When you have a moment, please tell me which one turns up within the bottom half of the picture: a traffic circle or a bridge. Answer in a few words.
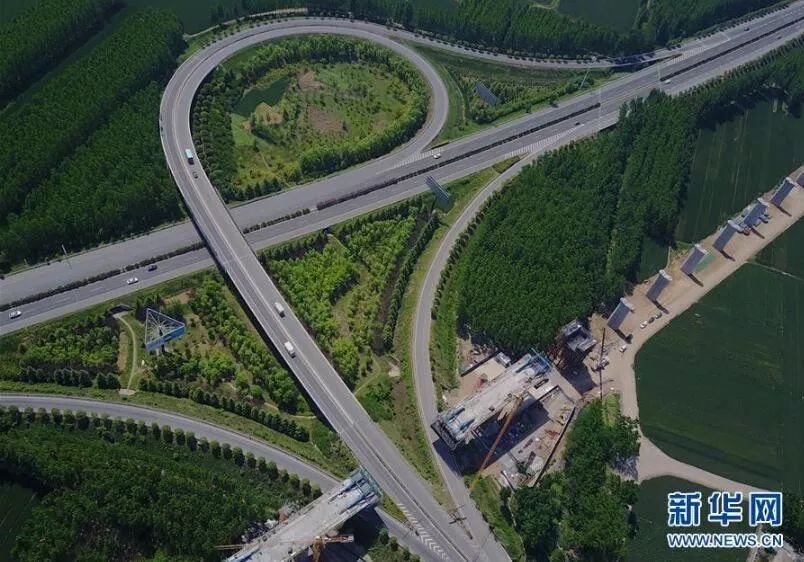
bridge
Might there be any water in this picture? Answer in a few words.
No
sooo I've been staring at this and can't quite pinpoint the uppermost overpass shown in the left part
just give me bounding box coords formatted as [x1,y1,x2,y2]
[159,48,379,433]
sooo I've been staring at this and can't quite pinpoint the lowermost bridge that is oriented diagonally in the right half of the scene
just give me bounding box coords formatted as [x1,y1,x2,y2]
[426,343,555,456]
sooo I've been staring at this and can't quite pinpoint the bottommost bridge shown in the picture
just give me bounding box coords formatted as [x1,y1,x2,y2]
[207,460,376,562]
